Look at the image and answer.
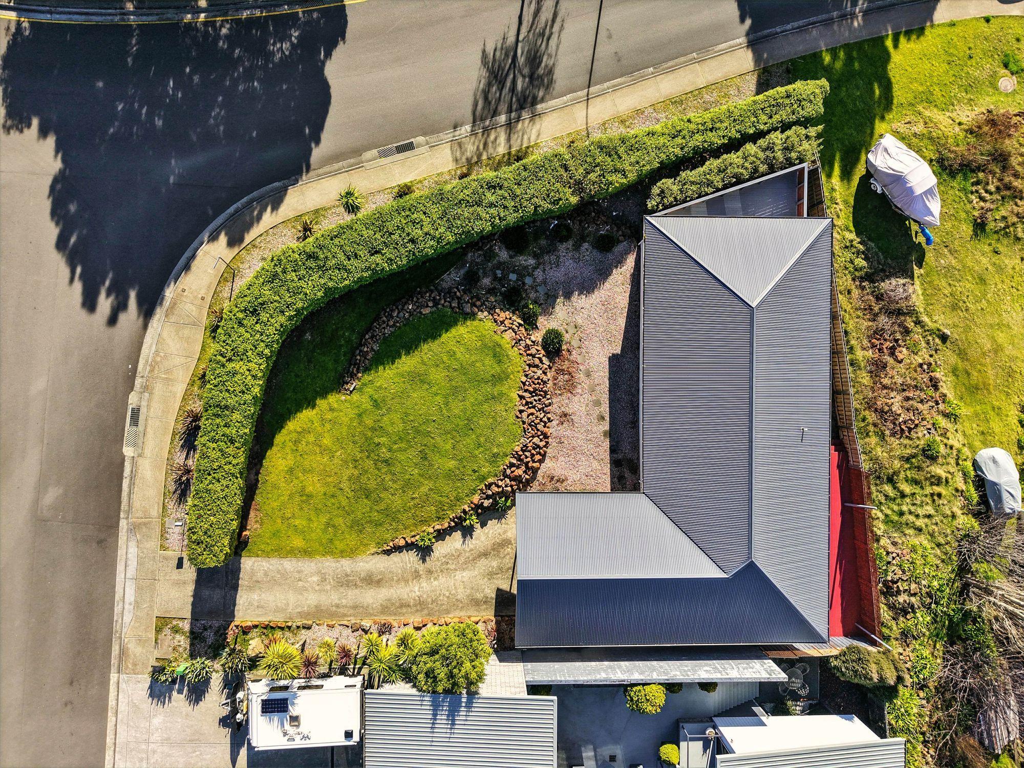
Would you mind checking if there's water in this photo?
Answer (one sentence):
No, there is no water in the image.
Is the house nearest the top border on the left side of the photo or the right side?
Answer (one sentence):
It is on the right.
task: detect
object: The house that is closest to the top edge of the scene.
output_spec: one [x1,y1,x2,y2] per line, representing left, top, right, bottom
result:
[515,214,836,648]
